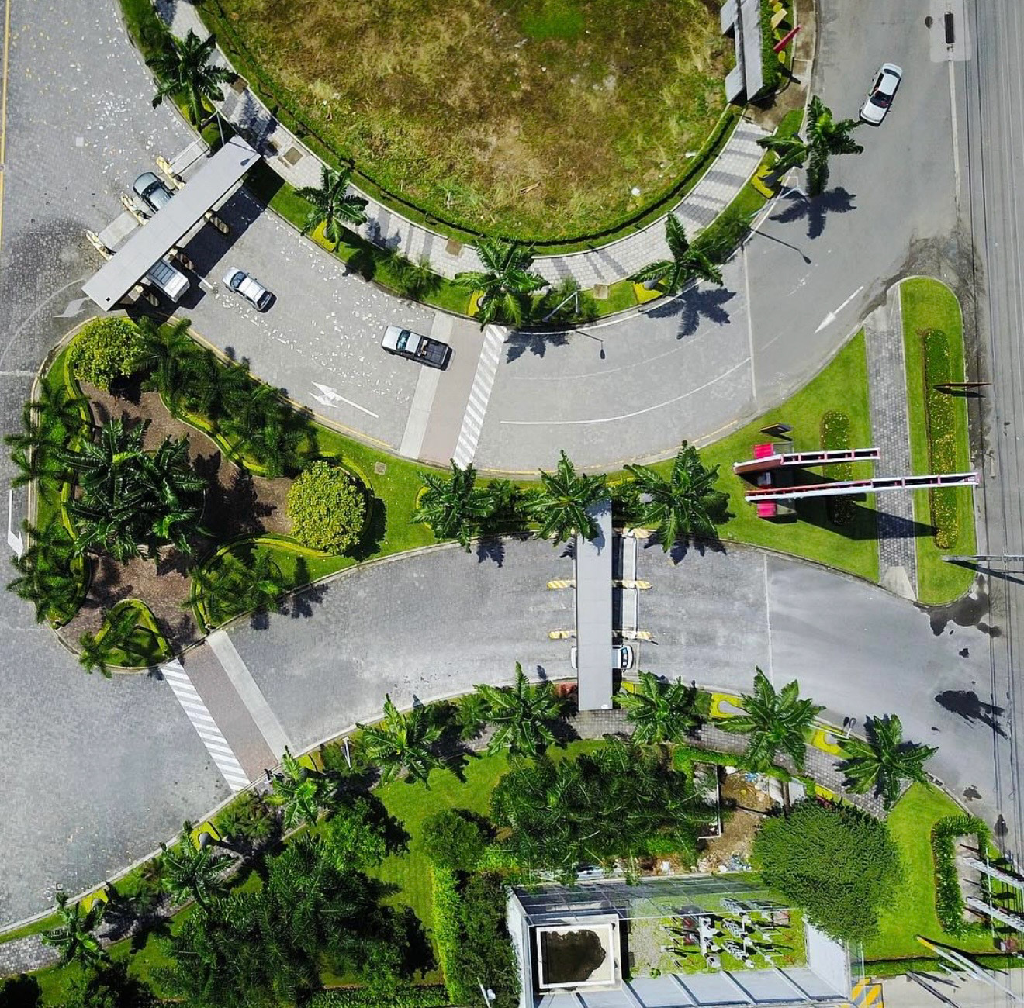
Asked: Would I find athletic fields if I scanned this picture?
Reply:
No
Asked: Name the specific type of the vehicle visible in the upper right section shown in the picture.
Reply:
car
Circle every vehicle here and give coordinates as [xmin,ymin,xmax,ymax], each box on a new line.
[858,61,906,127]
[380,327,455,369]
[151,256,197,306]
[218,265,274,313]
[133,169,173,213]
